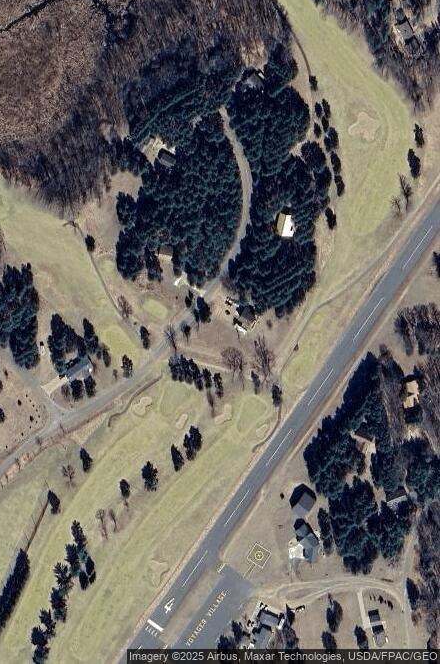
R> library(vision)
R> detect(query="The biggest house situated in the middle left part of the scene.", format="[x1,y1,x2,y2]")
[63,356,92,380]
